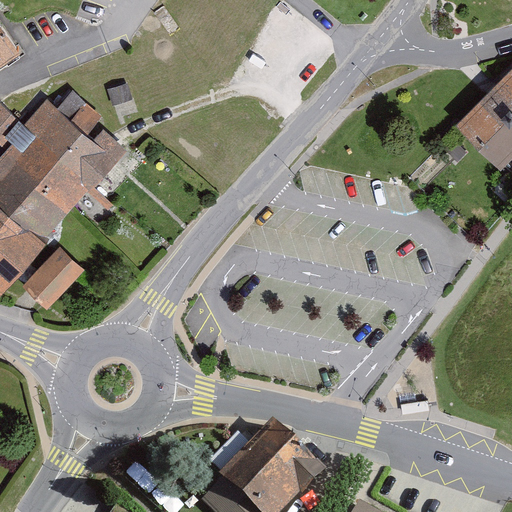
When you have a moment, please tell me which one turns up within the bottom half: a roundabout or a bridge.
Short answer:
roundabout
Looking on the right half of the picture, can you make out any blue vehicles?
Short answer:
Yes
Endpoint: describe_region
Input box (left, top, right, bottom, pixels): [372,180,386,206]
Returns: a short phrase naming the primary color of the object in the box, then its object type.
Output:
white car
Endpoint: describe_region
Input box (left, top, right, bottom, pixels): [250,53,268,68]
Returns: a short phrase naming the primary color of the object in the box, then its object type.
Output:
white vehicle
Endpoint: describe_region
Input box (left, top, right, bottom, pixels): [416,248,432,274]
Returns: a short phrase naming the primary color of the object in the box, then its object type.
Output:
gray car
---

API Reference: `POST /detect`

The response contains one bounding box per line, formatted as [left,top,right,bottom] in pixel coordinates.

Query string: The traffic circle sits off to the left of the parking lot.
[88,358,142,412]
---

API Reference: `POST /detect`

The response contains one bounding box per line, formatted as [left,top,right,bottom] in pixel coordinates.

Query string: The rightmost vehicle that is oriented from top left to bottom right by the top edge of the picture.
[312,8,333,30]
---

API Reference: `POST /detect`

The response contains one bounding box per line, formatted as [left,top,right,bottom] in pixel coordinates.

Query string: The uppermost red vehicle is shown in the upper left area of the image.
[37,16,54,37]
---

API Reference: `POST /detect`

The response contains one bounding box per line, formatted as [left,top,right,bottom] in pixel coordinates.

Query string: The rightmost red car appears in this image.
[394,240,417,258]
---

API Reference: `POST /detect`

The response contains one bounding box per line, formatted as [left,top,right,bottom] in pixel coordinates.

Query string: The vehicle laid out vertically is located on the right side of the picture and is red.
[344,176,356,198]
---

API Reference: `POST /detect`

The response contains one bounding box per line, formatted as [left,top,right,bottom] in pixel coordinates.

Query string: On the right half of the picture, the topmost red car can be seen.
[298,62,317,82]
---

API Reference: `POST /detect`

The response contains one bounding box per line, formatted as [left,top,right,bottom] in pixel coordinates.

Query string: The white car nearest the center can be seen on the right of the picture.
[328,220,346,240]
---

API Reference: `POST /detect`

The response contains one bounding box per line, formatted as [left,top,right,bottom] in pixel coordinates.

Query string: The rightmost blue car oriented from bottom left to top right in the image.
[352,323,373,343]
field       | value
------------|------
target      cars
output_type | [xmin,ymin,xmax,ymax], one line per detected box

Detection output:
[394,240,417,258]
[424,497,442,512]
[37,16,54,37]
[328,220,346,240]
[288,496,304,512]
[26,20,42,41]
[150,107,174,123]
[298,62,317,82]
[344,176,356,198]
[254,206,274,226]
[240,276,260,297]
[494,42,512,56]
[416,248,432,274]
[352,323,373,343]
[403,488,419,510]
[312,8,333,30]
[81,1,104,16]
[364,328,386,348]
[124,118,148,134]
[366,250,378,274]
[319,366,332,389]
[372,180,386,206]
[306,441,326,461]
[434,452,455,466]
[380,476,396,496]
